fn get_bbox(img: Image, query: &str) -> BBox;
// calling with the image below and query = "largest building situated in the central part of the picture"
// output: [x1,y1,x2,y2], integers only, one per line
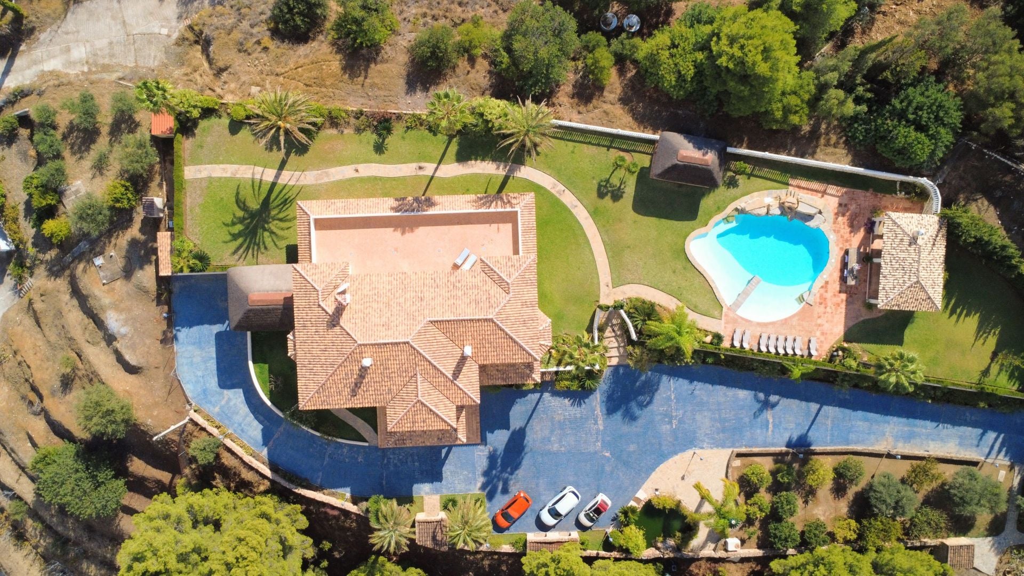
[287,192,552,449]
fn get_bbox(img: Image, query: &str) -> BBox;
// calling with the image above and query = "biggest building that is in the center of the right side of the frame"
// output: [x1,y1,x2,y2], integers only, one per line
[855,212,947,312]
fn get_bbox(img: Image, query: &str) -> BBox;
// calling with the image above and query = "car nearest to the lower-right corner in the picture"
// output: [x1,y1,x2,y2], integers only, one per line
[578,491,613,528]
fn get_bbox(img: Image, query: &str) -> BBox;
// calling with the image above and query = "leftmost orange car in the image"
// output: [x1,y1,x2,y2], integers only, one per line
[495,489,532,528]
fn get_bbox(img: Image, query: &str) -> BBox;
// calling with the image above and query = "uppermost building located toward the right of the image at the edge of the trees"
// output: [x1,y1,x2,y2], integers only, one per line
[651,133,726,188]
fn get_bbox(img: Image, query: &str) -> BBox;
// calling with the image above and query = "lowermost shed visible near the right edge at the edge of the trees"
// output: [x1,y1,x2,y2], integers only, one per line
[934,528,974,569]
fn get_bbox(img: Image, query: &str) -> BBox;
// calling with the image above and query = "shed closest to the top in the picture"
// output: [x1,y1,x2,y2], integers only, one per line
[151,109,179,136]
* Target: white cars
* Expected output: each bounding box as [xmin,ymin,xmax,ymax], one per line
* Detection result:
[540,483,581,528]
[578,491,613,528]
